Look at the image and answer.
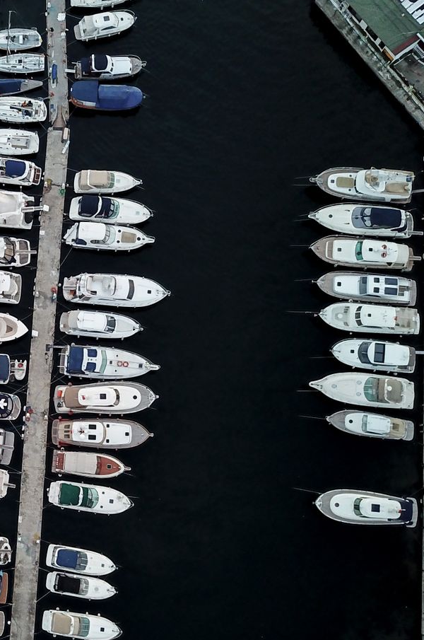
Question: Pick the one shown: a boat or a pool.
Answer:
boat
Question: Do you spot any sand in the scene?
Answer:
No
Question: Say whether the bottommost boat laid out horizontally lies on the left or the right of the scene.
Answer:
left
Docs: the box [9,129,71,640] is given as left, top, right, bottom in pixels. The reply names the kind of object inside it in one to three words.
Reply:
pier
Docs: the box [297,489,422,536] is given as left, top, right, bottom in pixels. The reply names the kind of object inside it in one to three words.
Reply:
boat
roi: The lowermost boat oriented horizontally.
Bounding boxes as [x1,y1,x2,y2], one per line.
[38,605,126,640]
